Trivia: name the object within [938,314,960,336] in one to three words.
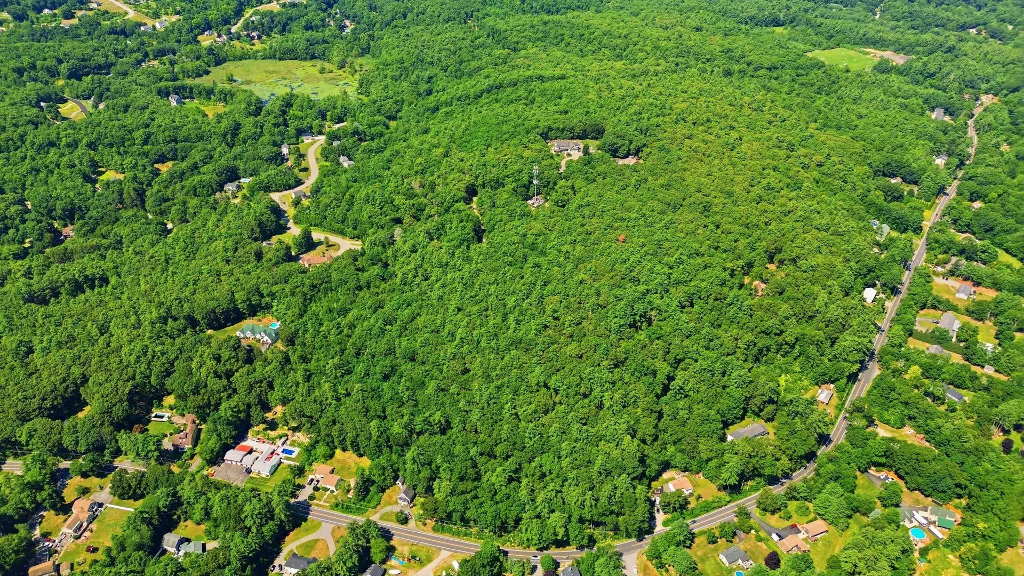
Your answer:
house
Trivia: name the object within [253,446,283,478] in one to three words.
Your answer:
building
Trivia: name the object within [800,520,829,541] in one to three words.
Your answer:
house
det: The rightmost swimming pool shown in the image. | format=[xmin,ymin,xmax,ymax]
[909,526,927,540]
